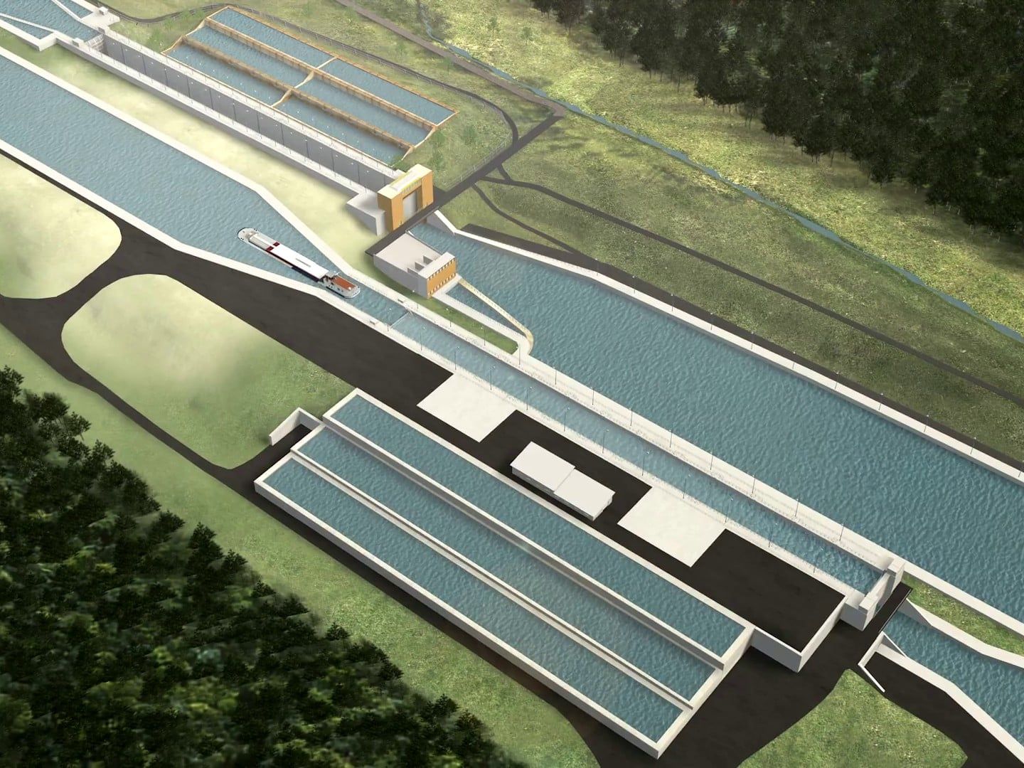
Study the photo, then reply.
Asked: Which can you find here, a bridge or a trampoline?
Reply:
bridge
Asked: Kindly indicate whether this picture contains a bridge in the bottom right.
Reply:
Yes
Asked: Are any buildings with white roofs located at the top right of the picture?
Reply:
No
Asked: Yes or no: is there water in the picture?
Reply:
Yes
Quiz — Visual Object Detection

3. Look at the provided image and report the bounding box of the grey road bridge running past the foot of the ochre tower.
[365,201,445,263]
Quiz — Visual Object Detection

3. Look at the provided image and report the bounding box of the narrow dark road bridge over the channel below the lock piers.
[868,581,915,634]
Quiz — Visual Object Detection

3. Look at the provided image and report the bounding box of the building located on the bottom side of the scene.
[508,441,616,519]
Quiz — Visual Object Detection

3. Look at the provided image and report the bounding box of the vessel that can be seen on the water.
[239,229,360,302]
